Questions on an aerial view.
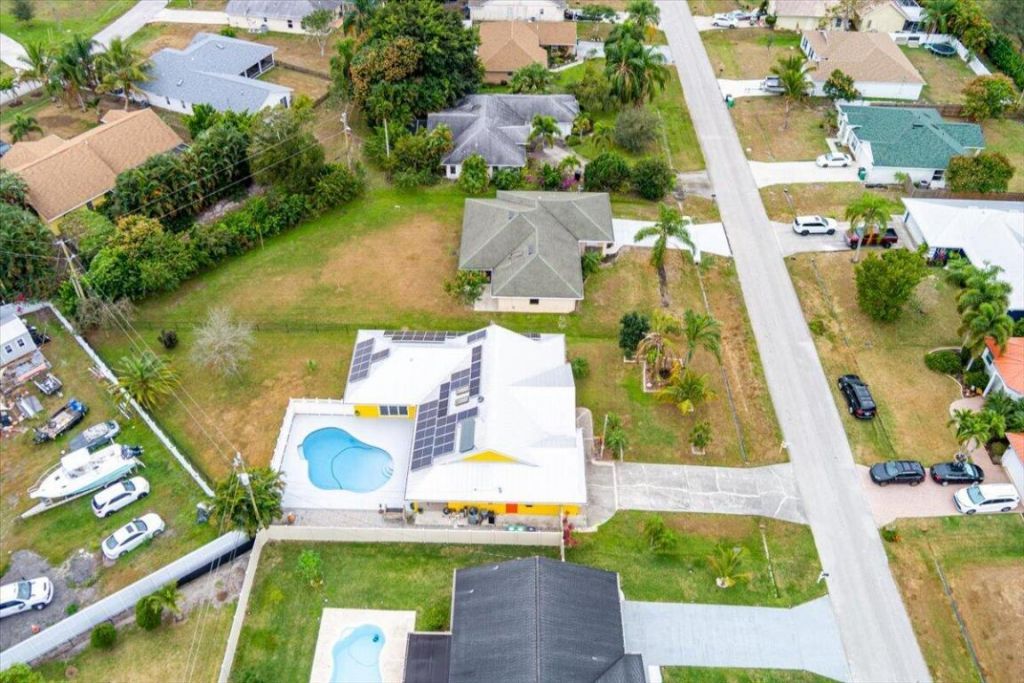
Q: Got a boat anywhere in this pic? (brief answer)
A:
Yes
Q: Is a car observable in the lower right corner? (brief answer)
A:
Yes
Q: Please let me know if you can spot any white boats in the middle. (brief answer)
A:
No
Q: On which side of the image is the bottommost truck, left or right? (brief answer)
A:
left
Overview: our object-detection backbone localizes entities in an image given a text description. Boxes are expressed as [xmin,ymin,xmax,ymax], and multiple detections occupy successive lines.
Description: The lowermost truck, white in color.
[0,576,65,623]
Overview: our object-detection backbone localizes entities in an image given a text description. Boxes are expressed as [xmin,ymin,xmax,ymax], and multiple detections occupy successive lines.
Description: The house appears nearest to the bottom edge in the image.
[395,556,650,683]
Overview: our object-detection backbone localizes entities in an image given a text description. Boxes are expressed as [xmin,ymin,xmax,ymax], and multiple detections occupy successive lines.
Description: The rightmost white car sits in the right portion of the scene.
[950,483,1024,513]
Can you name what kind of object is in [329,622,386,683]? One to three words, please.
swimming pool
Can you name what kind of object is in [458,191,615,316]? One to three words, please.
house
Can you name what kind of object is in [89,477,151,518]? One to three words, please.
car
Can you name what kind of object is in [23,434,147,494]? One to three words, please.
boat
